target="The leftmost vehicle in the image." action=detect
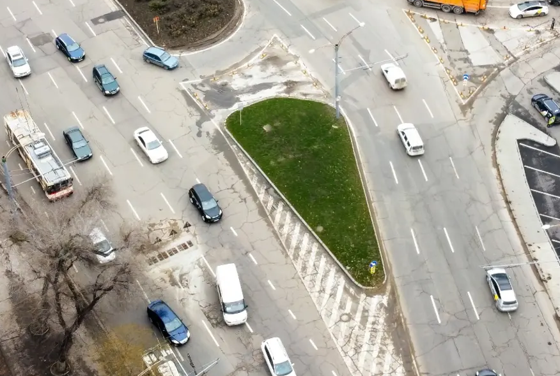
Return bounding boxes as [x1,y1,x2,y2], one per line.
[7,47,30,77]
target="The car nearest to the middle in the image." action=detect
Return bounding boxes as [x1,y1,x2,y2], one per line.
[189,182,223,224]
